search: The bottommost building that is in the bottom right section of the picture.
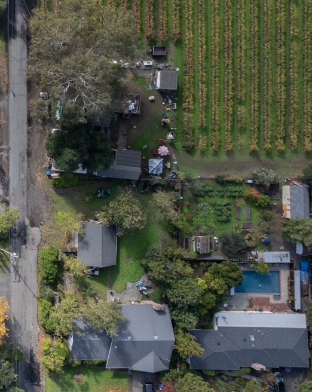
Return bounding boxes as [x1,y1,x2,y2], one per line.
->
[186,311,309,372]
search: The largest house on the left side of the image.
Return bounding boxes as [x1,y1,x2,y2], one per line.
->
[67,303,175,373]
